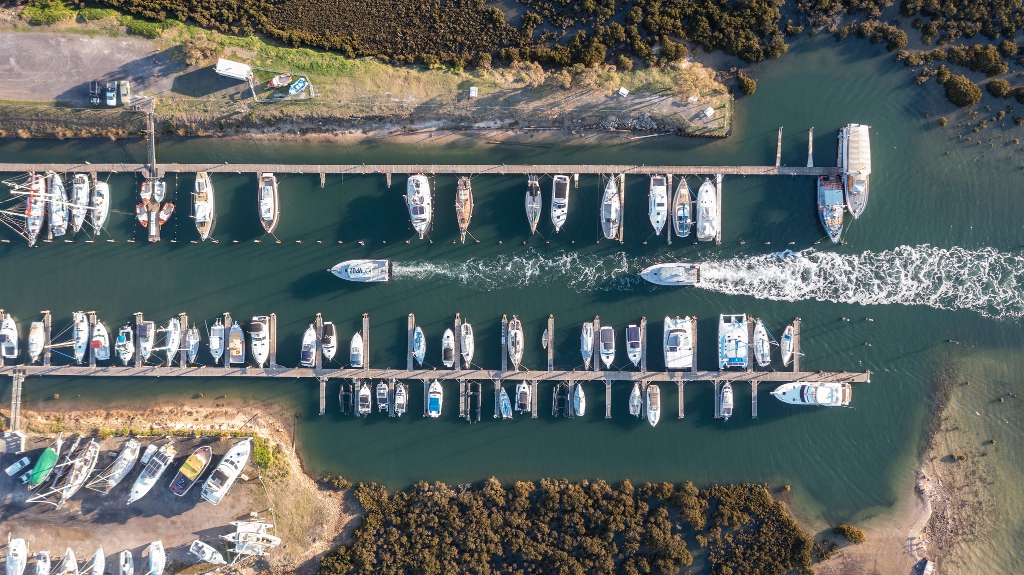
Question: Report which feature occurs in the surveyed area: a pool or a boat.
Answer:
boat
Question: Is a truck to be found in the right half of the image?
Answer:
No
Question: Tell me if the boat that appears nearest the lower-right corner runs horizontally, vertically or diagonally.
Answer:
horizontally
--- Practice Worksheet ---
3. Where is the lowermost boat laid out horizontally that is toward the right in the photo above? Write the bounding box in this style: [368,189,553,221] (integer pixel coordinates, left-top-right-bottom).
[770,380,853,409]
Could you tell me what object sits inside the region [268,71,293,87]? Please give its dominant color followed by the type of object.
white boat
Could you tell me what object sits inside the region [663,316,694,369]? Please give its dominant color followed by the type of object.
white boat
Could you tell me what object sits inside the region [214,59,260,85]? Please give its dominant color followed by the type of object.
white truck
